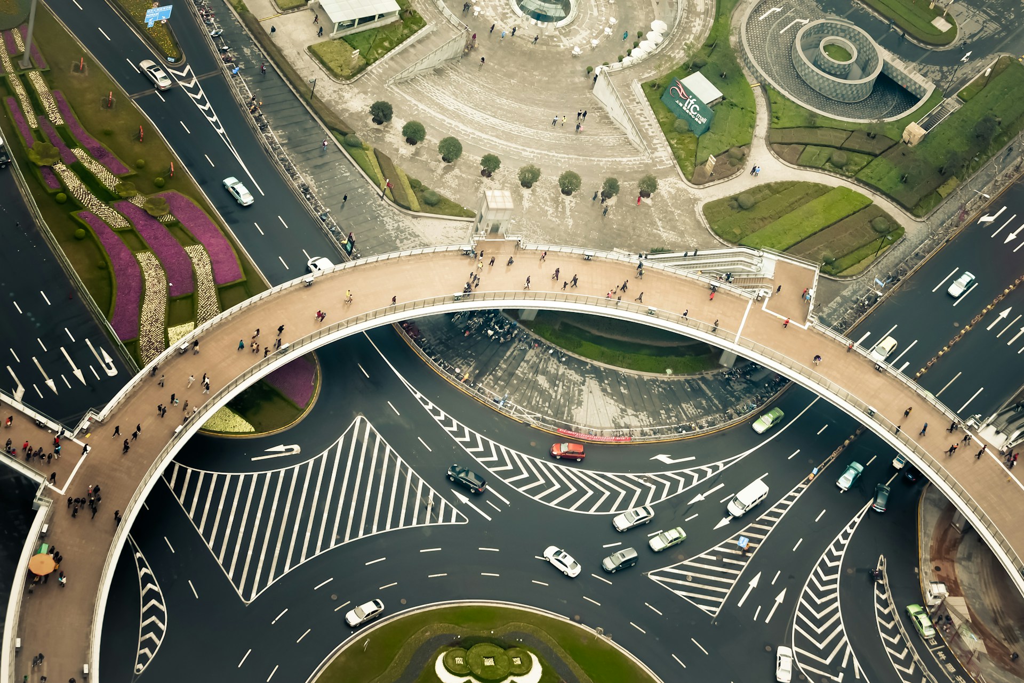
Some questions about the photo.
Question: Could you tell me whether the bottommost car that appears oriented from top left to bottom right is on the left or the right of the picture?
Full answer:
It is on the right.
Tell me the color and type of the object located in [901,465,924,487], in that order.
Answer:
black car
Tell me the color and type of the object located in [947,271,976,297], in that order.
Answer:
white car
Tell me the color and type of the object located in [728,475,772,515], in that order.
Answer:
white vehicle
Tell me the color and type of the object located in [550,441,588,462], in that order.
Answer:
red car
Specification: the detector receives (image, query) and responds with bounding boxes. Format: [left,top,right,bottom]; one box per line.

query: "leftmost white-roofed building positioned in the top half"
[311,0,401,37]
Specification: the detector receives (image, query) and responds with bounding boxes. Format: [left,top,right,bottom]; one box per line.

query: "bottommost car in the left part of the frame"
[343,598,388,627]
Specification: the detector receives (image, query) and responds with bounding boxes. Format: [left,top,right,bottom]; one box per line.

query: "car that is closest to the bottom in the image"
[775,646,795,683]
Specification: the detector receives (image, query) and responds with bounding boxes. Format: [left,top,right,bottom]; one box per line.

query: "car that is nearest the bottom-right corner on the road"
[904,604,937,641]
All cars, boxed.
[775,646,795,683]
[613,505,655,531]
[870,480,893,516]
[304,254,334,271]
[599,544,642,574]
[834,461,865,491]
[928,389,941,401]
[541,545,584,578]
[648,526,688,552]
[221,177,256,206]
[751,407,786,434]
[343,598,388,627]
[871,335,898,361]
[550,441,588,462]
[904,604,937,641]
[138,60,172,91]
[445,464,489,494]
[0,139,8,152]
[901,465,924,487]
[890,452,909,475]
[947,271,976,297]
